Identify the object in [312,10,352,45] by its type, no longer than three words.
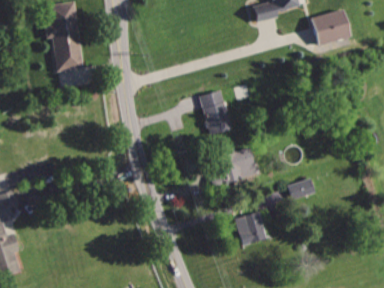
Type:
building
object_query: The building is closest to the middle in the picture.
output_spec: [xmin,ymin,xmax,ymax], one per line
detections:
[198,86,230,134]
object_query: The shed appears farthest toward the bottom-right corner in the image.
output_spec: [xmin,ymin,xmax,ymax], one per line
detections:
[288,179,315,200]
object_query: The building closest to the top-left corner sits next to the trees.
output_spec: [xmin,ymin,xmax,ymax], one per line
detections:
[45,0,84,72]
